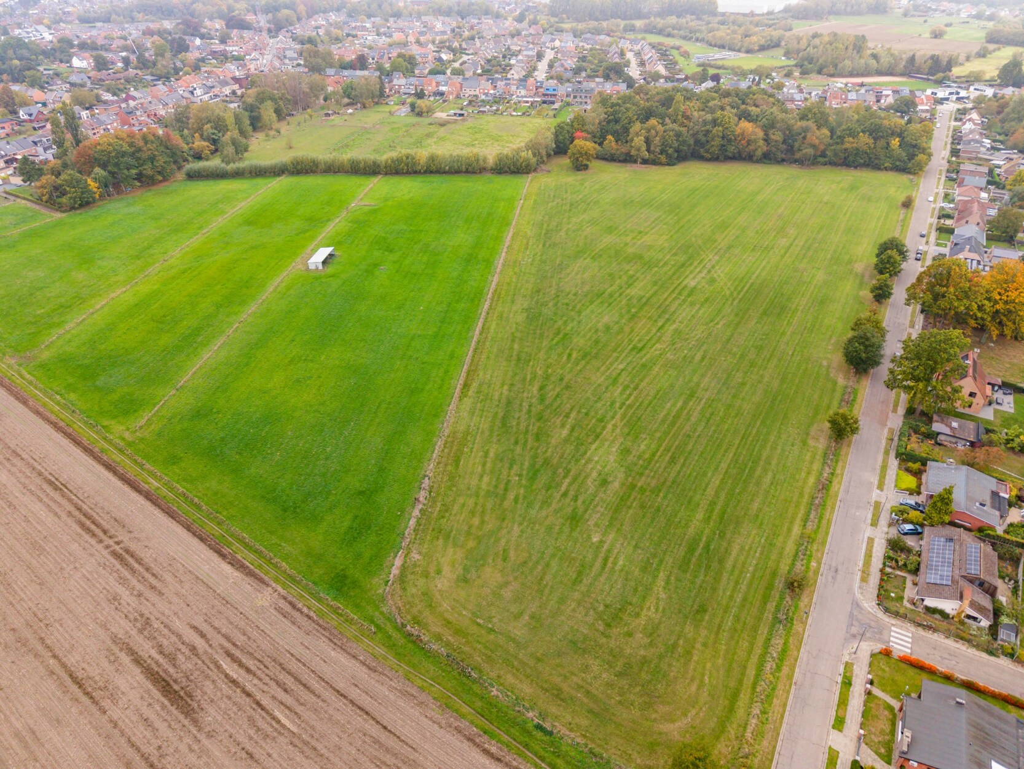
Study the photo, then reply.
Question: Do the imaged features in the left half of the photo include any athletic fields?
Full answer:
No, in the left half of the photo there is no athletic field.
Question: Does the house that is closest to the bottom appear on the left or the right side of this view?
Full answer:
It is on the right.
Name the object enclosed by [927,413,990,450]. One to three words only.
barn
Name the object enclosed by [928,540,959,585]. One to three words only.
solar array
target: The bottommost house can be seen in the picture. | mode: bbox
[895,685,1019,769]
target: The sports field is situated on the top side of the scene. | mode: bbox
[621,34,786,75]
